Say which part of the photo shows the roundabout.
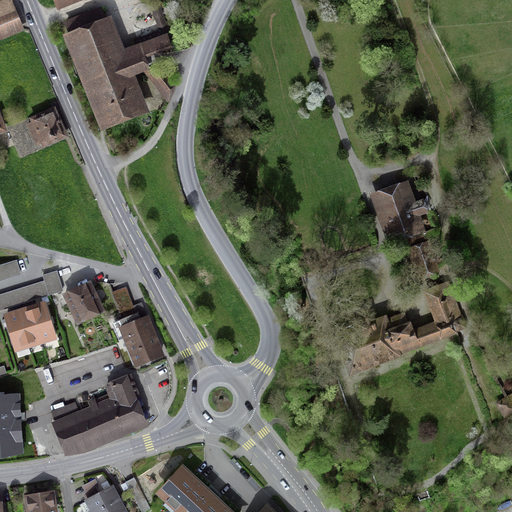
bottom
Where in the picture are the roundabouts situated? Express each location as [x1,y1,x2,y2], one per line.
[184,362,258,436]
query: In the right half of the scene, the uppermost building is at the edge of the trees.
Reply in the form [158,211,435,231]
[370,180,431,240]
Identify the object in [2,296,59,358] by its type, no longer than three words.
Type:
house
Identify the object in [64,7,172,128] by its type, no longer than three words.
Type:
barn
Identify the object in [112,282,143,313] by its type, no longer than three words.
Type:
building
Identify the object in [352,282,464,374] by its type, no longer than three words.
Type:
building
